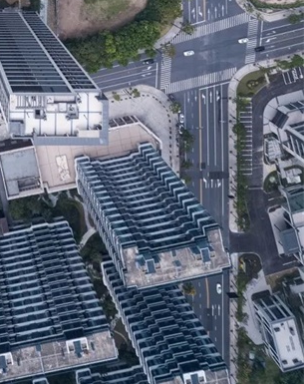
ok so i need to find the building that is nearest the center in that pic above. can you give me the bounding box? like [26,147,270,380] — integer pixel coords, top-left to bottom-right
[80,145,228,293]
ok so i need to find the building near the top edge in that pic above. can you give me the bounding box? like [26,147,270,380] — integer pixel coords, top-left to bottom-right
[0,7,111,145]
